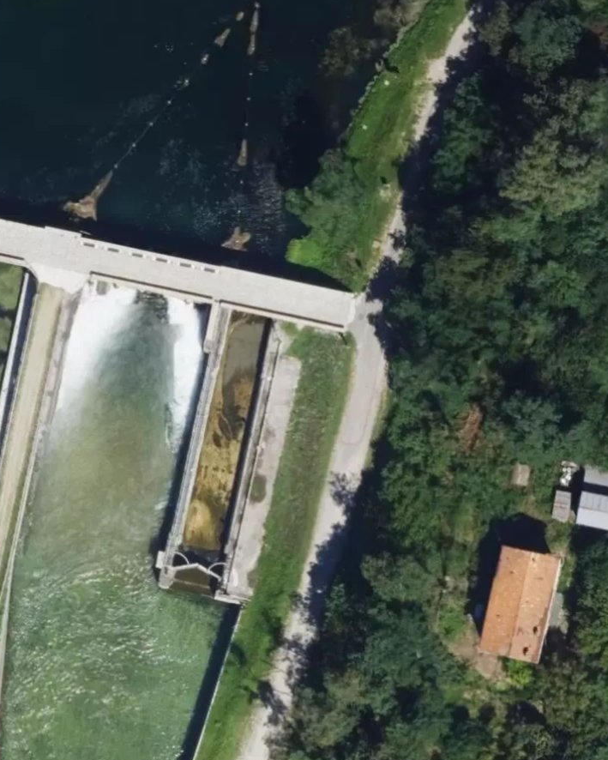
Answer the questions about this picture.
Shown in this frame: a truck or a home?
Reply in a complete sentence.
Visible in the photo is a home.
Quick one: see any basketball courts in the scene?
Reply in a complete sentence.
No, no basketball court is visible in the view.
